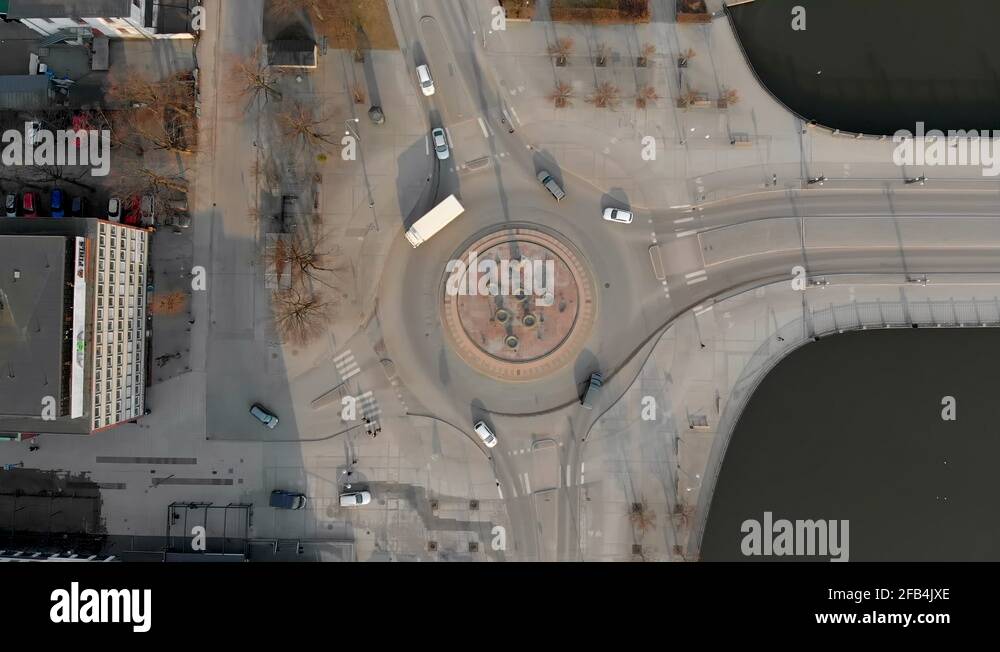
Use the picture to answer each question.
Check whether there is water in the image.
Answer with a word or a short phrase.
Yes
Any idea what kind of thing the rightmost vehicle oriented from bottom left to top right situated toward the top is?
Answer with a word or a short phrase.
truck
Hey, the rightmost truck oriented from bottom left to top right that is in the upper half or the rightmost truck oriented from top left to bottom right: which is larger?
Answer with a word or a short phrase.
the rightmost truck oriented from bottom left to top right that is in the upper half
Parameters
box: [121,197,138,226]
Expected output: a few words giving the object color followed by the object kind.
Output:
red car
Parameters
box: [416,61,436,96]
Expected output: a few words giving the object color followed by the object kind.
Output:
white car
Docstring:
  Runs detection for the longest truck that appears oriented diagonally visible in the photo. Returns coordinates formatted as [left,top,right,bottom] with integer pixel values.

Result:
[407,190,467,246]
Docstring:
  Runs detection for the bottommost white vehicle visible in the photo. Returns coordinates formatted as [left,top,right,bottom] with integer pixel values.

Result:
[339,491,371,508]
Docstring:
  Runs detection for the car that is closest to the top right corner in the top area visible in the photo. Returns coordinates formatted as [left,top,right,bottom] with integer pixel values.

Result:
[603,207,634,224]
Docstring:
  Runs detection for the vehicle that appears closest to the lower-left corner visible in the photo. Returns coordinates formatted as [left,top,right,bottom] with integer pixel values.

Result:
[269,492,306,509]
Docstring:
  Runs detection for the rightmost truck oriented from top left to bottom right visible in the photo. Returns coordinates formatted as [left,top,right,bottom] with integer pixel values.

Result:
[538,169,565,201]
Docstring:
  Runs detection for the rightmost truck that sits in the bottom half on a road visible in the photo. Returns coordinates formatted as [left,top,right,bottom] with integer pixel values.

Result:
[580,374,604,410]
